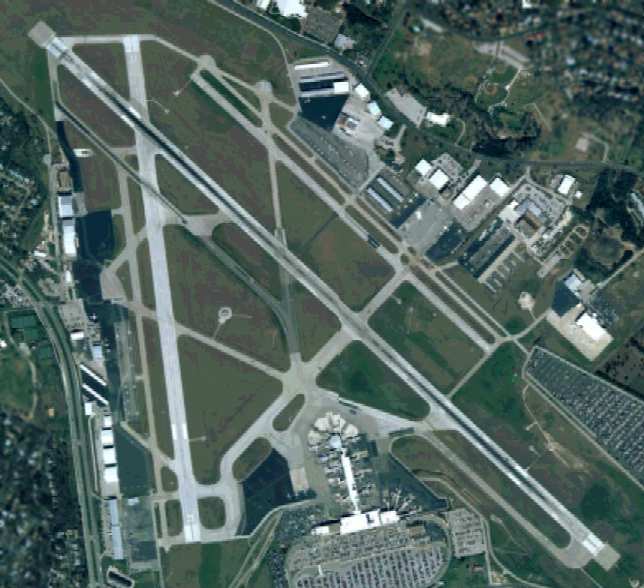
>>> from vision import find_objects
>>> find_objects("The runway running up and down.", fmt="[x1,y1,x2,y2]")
[124,34,199,544]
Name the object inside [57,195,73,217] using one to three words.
hangar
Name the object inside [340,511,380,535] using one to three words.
building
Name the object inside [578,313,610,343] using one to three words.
hangar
